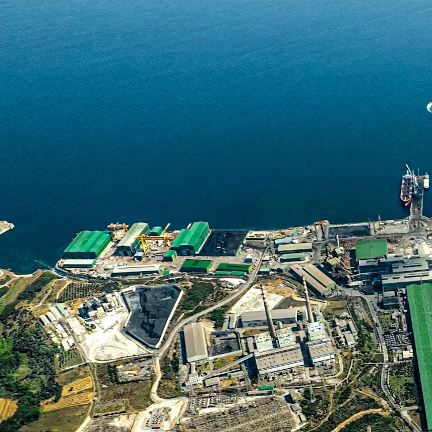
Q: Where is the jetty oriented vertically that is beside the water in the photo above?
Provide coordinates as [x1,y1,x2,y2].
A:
[409,179,423,219]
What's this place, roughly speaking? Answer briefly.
port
